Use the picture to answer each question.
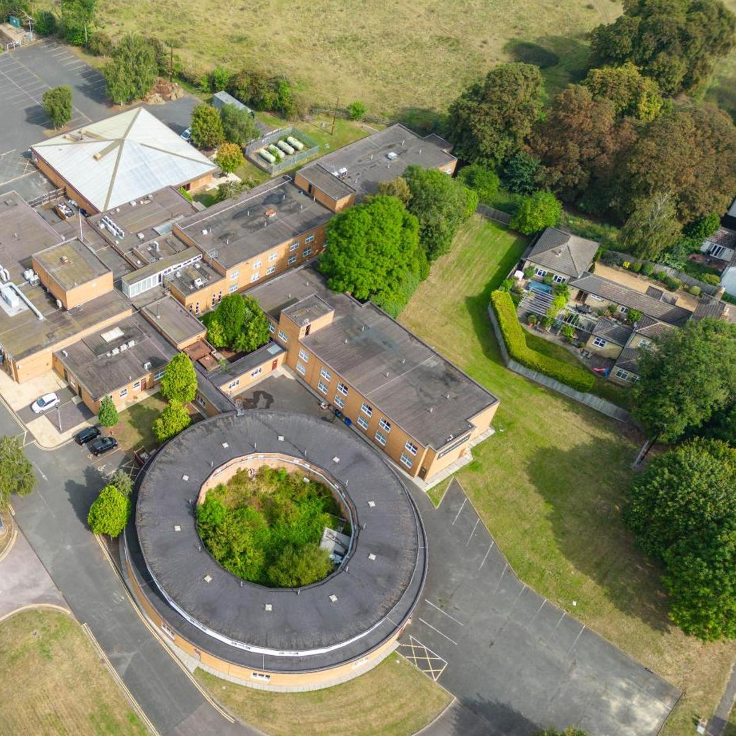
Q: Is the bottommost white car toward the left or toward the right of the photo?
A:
left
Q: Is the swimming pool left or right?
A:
right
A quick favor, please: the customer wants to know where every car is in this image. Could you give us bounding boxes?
[84,433,122,458]
[28,390,62,413]
[180,126,193,143]
[68,424,104,448]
